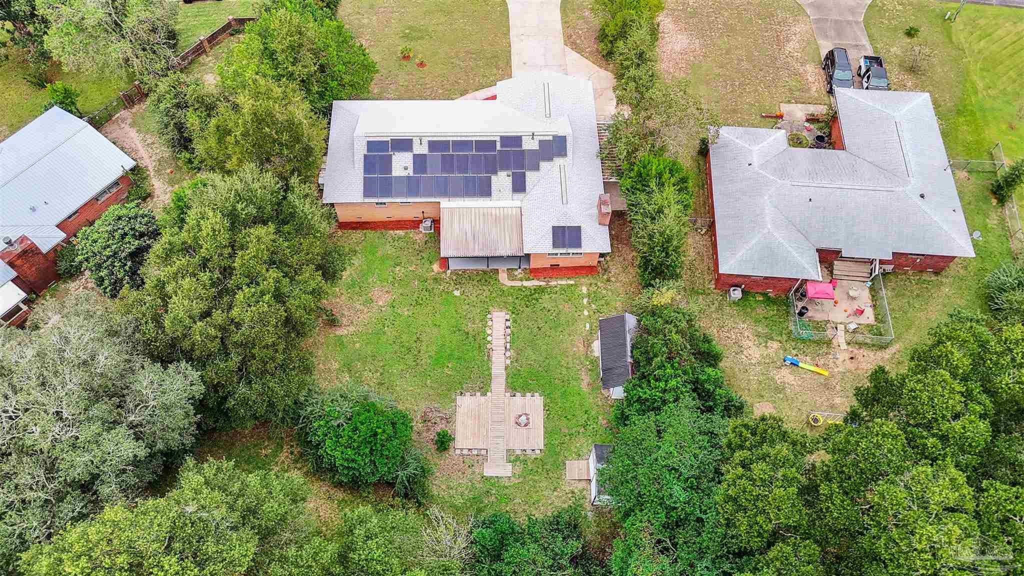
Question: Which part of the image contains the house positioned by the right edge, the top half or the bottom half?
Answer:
top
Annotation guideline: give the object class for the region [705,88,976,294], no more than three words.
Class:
house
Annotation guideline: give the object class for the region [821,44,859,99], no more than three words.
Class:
car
